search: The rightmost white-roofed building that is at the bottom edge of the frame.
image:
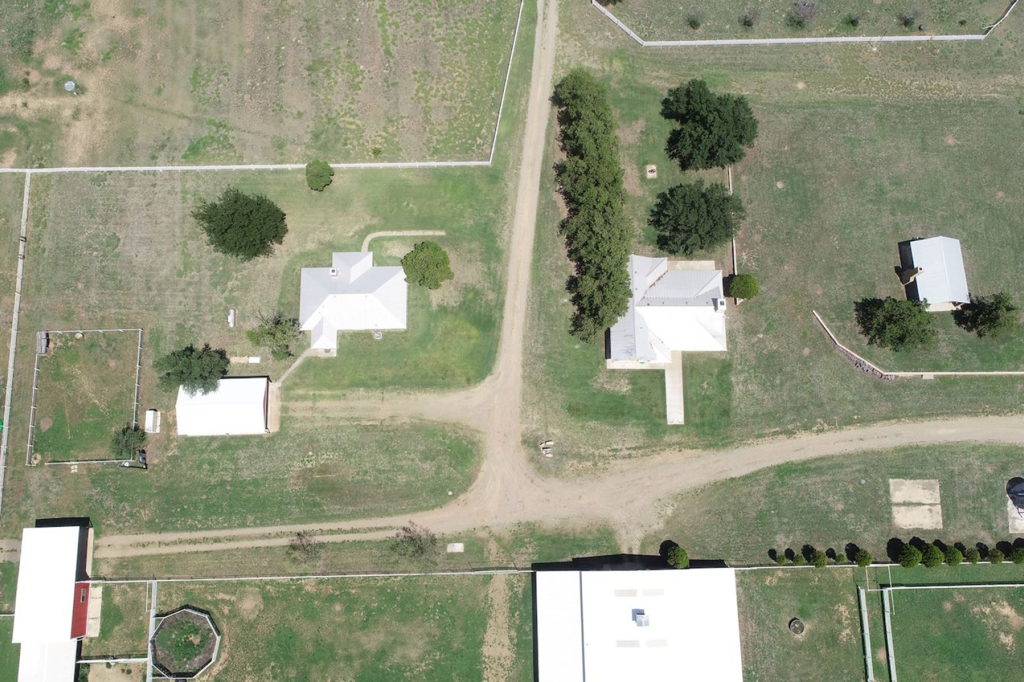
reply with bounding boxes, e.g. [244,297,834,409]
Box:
[535,568,742,682]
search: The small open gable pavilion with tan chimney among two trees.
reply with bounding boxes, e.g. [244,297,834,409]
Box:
[897,236,970,311]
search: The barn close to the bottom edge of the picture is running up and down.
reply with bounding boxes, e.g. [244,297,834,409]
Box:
[12,526,93,682]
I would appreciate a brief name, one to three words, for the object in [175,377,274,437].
building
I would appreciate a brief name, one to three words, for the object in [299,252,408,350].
house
